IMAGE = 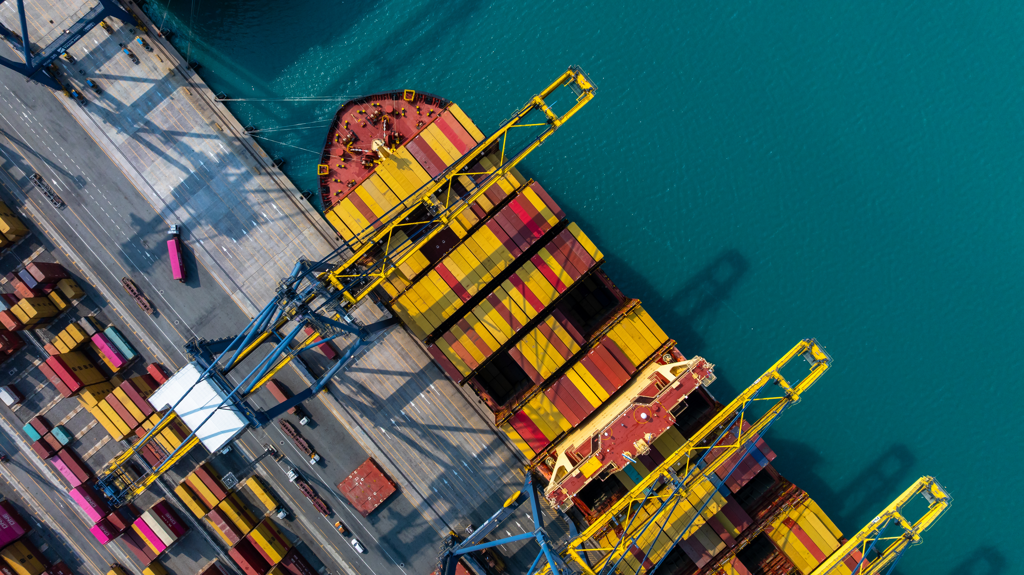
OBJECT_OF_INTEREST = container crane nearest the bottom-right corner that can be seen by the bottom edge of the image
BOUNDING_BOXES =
[796,465,961,575]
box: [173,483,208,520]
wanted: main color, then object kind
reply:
yellow shipping container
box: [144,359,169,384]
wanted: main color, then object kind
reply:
red shipping container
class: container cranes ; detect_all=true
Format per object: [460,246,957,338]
[431,327,840,575]
[75,57,606,521]
[796,465,961,575]
[0,0,146,98]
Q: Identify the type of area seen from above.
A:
port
